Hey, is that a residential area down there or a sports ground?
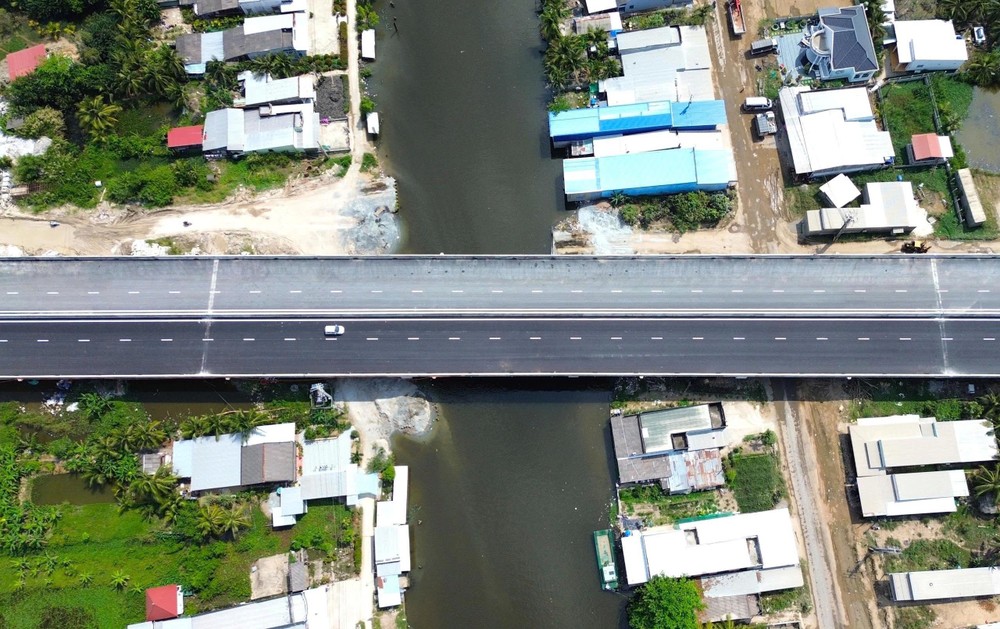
residential area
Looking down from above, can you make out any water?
Yes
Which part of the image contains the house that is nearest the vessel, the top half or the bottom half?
bottom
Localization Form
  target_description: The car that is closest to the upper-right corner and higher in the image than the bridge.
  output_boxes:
[973,28,985,43]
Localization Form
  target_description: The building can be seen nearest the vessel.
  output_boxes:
[620,508,799,584]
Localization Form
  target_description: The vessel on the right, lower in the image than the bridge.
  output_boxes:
[594,530,621,590]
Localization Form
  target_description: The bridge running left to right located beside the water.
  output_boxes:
[0,252,1000,381]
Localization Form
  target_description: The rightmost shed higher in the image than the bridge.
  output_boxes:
[955,168,986,229]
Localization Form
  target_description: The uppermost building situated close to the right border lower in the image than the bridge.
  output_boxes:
[844,415,998,477]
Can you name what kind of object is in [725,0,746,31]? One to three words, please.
truck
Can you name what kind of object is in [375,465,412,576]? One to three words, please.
house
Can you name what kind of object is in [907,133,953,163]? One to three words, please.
building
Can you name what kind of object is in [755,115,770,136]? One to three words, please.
vehicle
